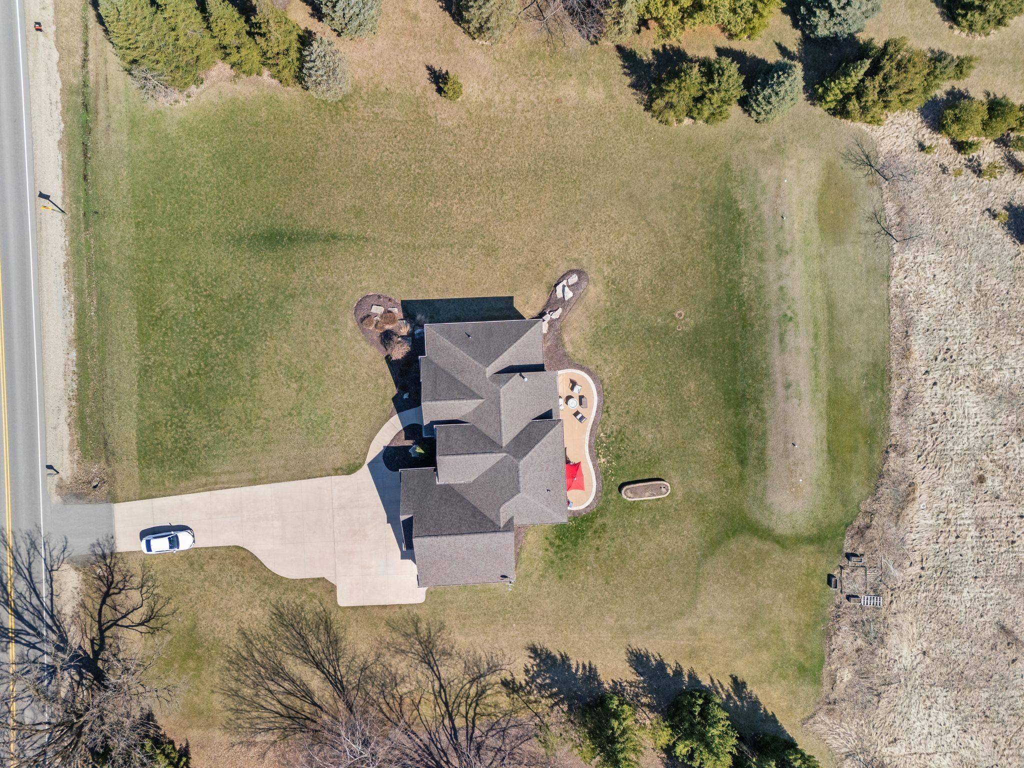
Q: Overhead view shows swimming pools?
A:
No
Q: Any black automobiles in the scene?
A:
No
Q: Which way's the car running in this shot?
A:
from side to side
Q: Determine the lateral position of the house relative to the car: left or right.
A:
to the right of it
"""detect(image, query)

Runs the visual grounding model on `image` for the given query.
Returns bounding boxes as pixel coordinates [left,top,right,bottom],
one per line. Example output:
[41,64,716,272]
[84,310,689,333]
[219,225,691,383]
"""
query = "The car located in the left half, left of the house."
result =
[136,528,192,553]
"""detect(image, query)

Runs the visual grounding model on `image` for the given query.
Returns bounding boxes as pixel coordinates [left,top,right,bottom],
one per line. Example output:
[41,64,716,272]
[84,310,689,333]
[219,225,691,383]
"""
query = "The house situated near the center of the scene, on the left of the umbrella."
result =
[399,318,570,589]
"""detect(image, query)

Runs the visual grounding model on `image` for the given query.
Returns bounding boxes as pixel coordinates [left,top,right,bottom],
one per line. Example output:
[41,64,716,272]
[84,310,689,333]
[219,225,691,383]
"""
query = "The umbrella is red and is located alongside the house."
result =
[567,461,586,491]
